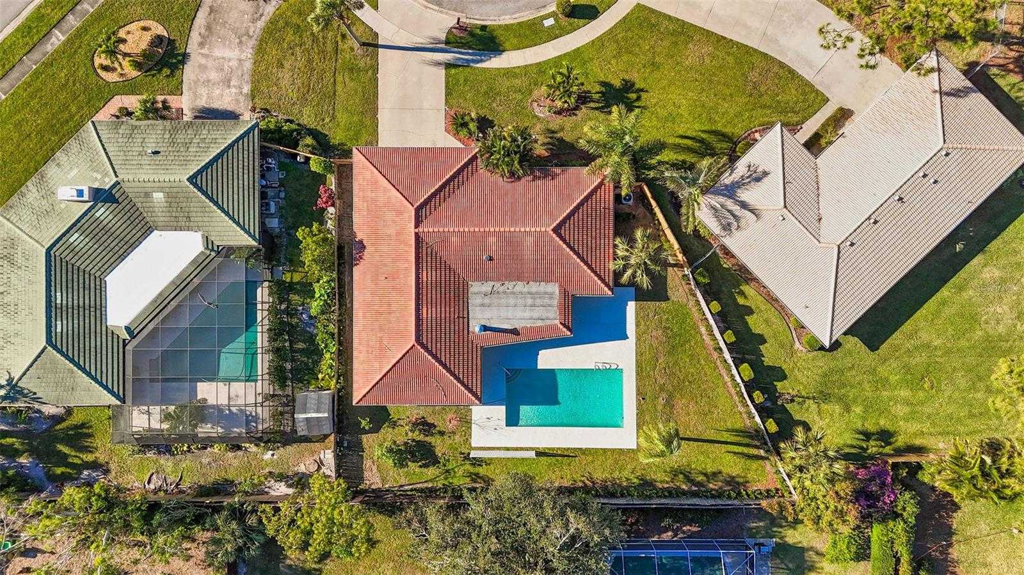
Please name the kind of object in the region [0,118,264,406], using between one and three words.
house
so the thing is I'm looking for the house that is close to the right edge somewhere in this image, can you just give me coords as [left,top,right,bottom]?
[697,49,1024,349]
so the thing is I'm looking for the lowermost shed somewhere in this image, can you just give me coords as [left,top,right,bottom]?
[289,391,334,436]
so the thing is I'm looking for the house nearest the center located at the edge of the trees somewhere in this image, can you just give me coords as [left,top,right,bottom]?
[352,145,616,407]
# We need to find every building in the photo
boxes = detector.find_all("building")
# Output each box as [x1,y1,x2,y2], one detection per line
[697,49,1024,349]
[0,118,264,406]
[352,145,616,407]
[289,391,334,436]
